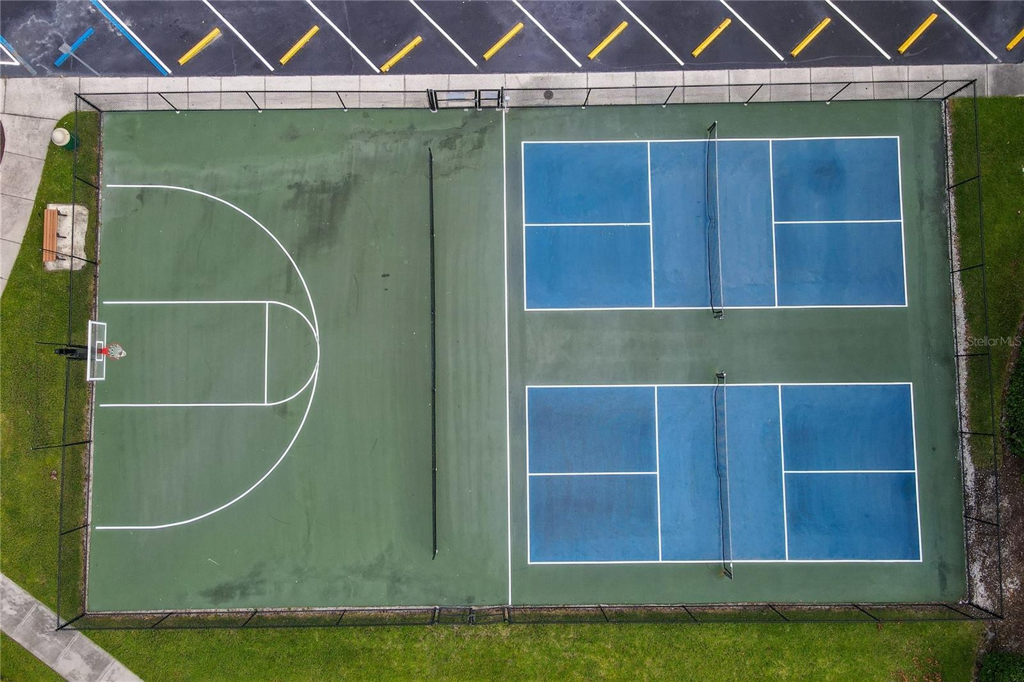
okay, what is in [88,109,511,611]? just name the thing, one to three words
basketball court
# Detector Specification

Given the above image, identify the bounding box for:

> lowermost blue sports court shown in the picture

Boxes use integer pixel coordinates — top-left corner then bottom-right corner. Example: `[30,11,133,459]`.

[526,382,923,564]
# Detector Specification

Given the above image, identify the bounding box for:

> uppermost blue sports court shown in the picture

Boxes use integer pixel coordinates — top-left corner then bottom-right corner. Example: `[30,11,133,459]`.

[522,136,908,310]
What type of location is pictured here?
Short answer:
sports ground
